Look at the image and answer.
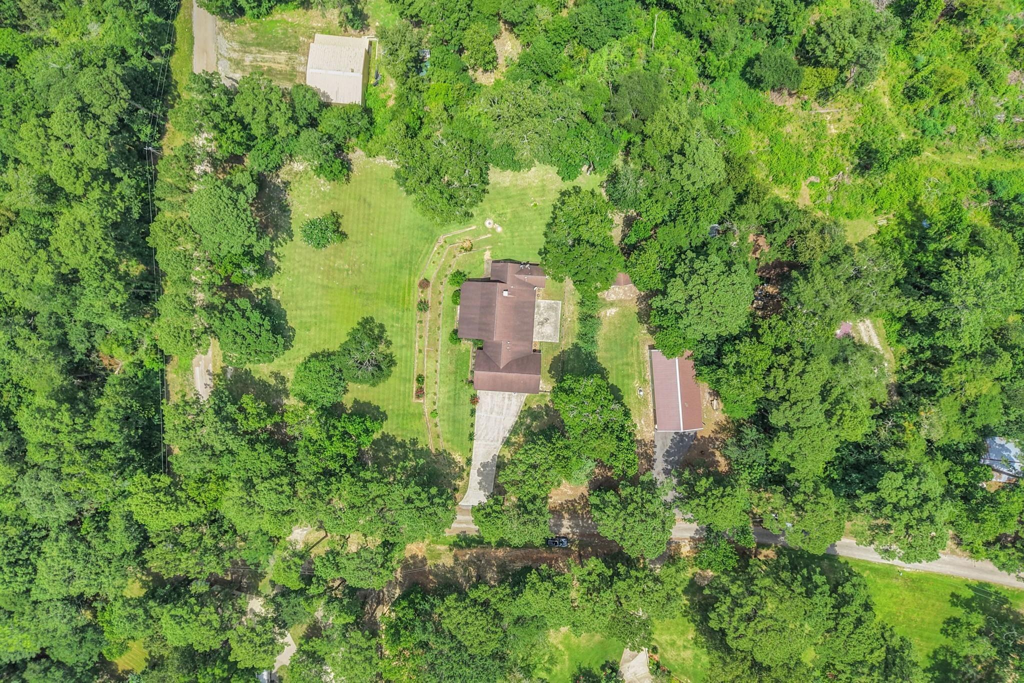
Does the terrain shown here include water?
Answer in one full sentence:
No, there's no water in this view.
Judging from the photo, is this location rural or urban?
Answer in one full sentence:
It looks rural.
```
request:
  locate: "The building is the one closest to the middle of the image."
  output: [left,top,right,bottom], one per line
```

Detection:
[457,263,546,393]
